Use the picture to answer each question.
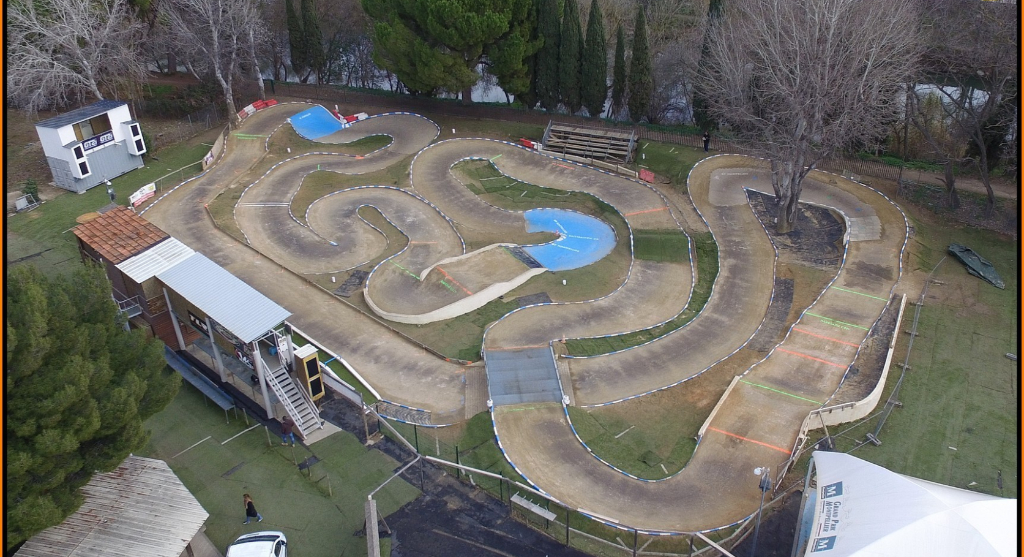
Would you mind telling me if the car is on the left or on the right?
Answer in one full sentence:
You can find the car on the left side of the picture.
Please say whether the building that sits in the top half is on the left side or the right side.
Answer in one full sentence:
The building that sits in the top half sits on the left side.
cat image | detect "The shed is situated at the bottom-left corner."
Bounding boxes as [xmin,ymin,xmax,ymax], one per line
[28,454,215,557]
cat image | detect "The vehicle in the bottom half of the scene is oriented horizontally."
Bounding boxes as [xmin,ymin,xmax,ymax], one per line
[234,530,294,557]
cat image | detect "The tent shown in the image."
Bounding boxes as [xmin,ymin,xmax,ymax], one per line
[799,451,1024,557]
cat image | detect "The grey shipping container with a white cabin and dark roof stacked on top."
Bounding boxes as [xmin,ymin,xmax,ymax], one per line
[25,104,146,195]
